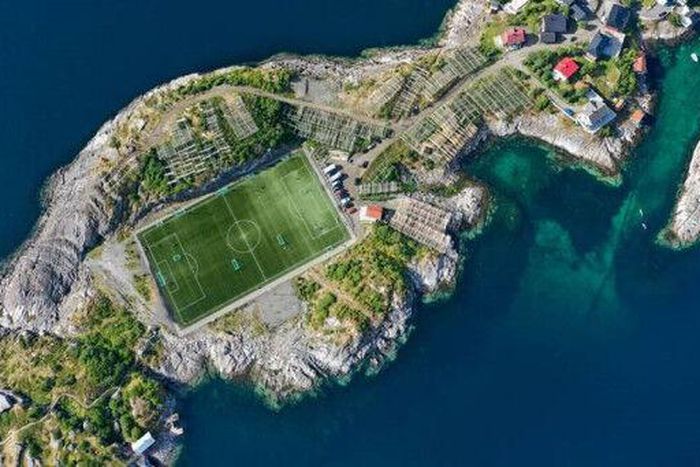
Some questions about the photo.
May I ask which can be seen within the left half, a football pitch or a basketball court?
football pitch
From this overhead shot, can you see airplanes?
No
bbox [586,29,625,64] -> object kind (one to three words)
house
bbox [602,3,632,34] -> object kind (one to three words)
house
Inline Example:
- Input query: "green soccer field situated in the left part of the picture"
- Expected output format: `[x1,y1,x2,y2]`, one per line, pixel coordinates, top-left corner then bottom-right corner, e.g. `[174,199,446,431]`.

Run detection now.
[137,150,351,330]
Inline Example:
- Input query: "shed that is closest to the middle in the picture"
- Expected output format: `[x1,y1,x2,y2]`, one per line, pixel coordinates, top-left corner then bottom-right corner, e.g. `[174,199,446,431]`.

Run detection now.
[360,206,382,222]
